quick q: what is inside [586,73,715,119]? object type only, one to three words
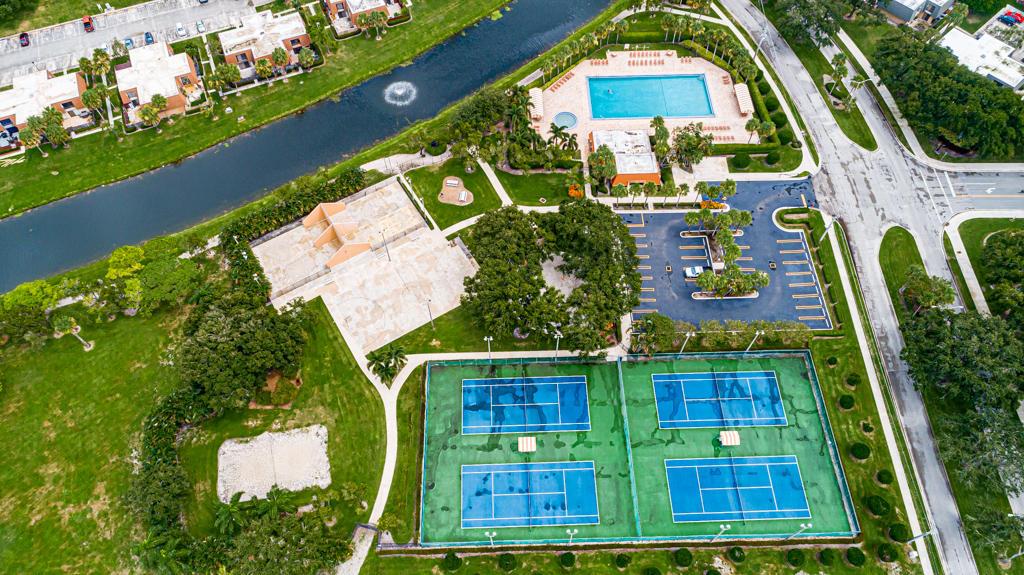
swimming pool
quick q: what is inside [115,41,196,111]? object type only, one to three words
house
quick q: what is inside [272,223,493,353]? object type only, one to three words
basketball court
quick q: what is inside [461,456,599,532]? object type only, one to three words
tennis court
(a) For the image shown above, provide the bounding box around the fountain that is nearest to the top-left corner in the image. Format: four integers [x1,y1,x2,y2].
[382,82,420,108]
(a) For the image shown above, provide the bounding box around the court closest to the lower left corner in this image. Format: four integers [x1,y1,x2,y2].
[217,424,333,505]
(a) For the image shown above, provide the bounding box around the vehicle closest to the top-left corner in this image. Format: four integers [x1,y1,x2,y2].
[17,32,29,46]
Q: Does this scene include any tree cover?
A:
Yes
